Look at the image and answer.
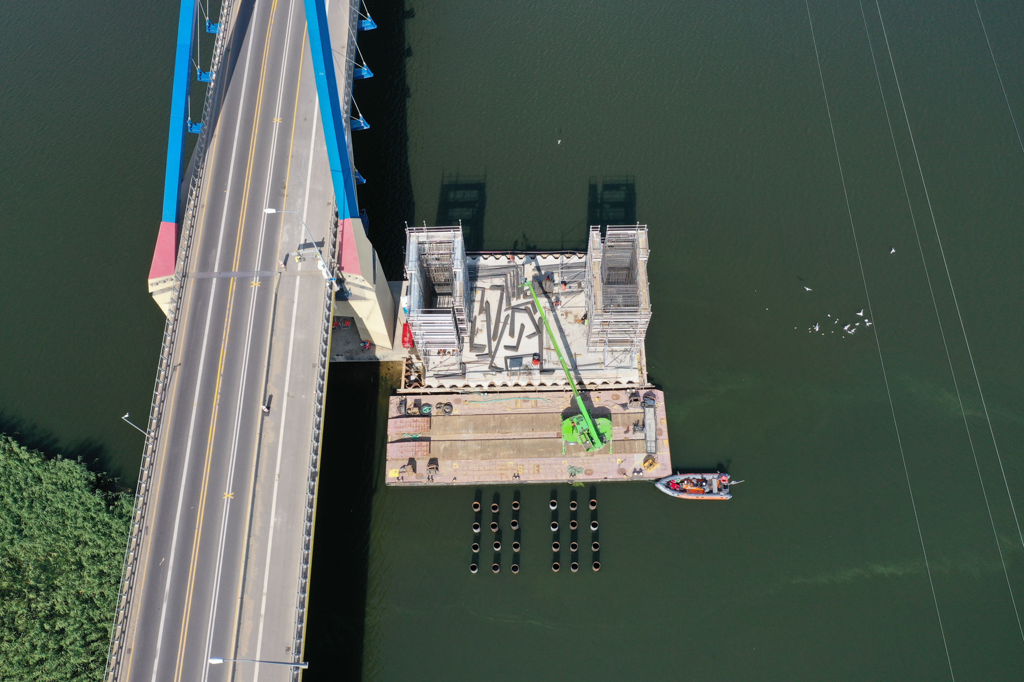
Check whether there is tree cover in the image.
No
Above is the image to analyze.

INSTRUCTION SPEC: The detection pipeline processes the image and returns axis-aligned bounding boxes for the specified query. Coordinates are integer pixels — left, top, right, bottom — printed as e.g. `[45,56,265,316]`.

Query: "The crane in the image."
[518,280,614,458]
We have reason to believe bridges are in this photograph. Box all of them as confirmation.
[98,0,409,682]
